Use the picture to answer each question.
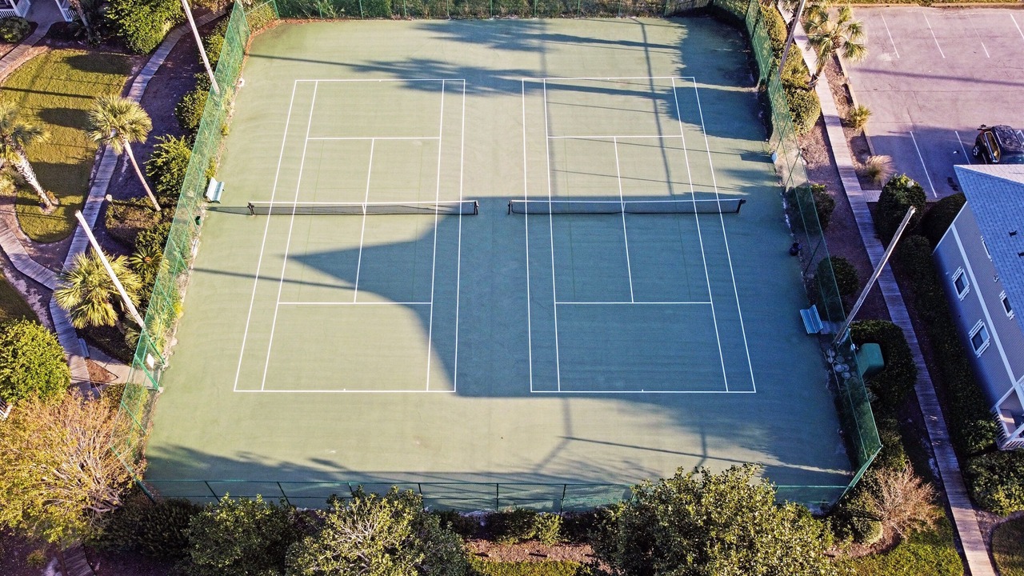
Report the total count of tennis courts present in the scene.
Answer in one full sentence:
The photo contains 2 tennis courts.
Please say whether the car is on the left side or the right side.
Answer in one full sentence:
The car appears in the right half of the scene.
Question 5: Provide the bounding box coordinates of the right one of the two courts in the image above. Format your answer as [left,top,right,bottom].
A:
[493,15,856,511]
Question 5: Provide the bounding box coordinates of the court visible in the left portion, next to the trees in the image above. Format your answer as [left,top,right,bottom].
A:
[145,19,495,511]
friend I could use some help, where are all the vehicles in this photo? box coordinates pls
[977,129,1024,165]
